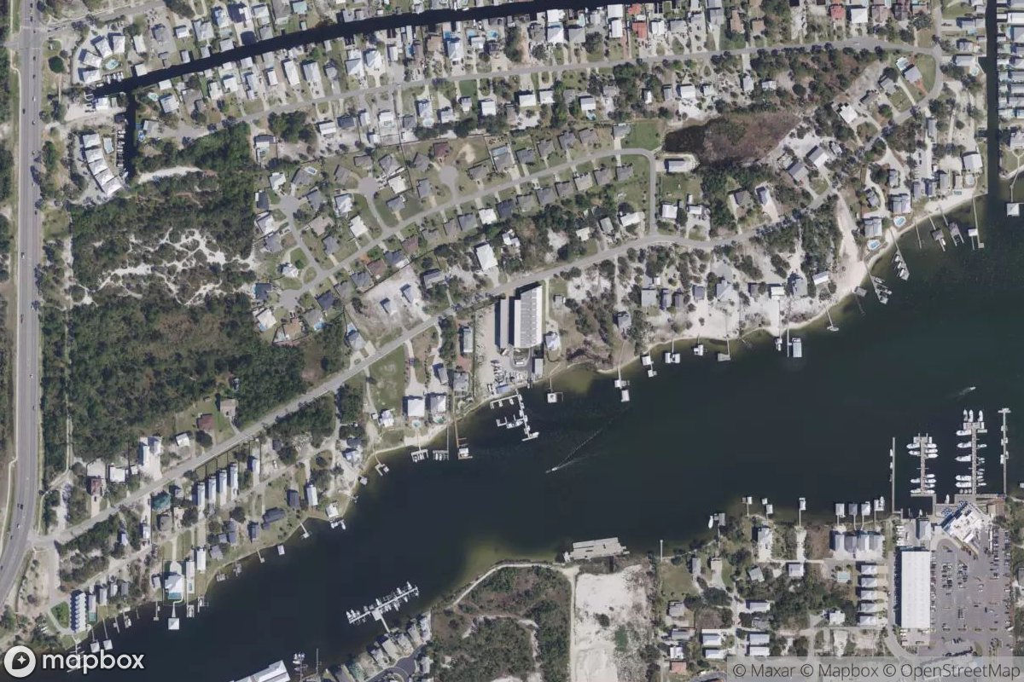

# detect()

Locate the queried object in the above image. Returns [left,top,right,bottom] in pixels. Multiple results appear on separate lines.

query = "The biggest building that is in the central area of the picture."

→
[514,285,542,347]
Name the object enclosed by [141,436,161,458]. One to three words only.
house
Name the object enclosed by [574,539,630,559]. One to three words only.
pier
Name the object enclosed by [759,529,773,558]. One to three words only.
house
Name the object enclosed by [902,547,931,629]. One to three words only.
building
